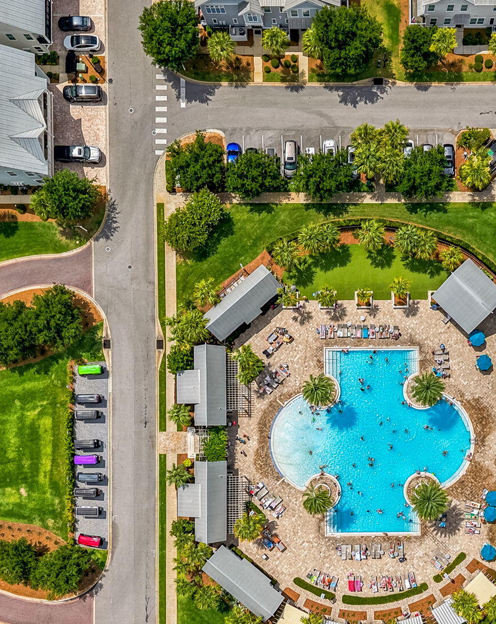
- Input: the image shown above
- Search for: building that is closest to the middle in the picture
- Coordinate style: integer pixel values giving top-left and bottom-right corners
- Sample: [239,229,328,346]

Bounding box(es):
[206,265,282,341]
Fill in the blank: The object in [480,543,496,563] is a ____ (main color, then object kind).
blue umbrella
